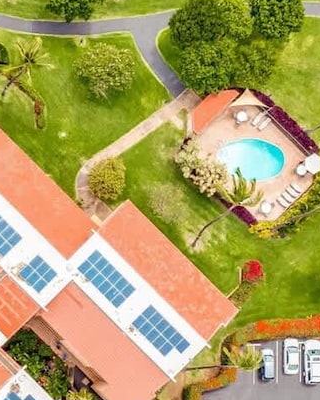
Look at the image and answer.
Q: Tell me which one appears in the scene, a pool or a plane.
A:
pool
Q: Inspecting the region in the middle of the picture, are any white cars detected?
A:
No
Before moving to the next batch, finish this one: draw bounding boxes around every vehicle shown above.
[280,337,300,374]
[301,341,320,383]
[257,347,276,380]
